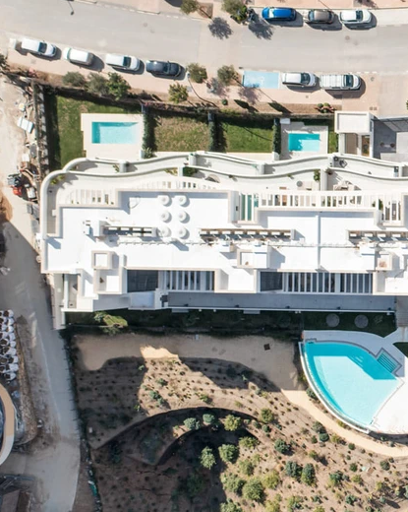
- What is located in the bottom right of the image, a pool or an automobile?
pool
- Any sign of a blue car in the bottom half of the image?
No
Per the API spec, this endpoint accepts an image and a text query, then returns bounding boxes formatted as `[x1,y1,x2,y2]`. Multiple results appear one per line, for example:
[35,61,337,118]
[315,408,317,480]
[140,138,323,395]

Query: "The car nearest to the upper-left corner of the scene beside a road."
[18,38,58,58]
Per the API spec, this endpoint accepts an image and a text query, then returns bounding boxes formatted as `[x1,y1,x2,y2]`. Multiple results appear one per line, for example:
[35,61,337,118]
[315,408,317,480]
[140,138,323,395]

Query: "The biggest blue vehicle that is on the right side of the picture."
[263,5,297,23]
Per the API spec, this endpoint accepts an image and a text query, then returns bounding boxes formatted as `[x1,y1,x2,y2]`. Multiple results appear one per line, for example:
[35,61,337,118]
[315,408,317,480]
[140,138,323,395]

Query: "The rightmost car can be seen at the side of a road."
[340,8,372,24]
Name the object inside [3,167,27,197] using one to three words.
work vehicle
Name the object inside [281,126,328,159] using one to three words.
swimming pool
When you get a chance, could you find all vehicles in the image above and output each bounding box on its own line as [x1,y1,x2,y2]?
[62,47,98,67]
[3,167,27,197]
[302,8,337,25]
[106,54,141,71]
[282,71,316,88]
[340,8,372,24]
[318,73,361,91]
[145,61,182,78]
[18,38,58,58]
[263,5,297,23]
